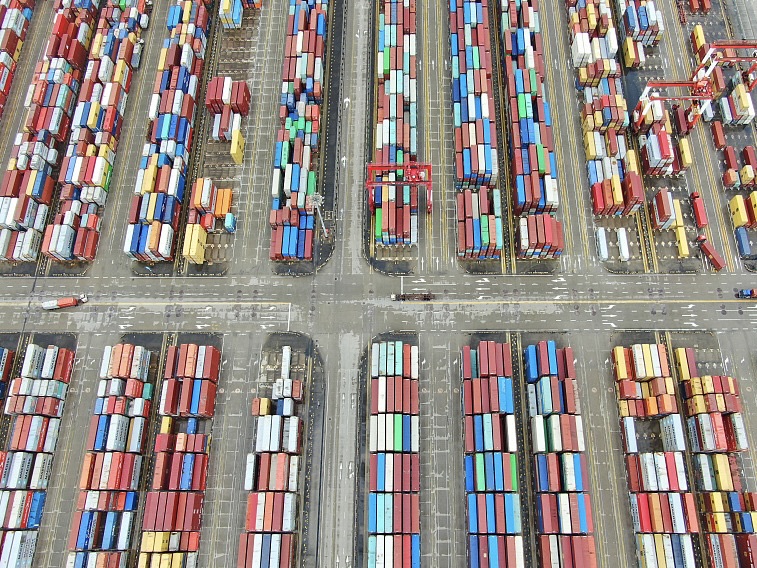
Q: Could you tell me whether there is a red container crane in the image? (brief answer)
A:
Yes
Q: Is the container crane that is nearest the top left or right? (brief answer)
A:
right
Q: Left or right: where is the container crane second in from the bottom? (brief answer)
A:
right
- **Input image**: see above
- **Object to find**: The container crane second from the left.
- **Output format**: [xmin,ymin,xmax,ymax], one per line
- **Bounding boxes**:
[631,77,710,131]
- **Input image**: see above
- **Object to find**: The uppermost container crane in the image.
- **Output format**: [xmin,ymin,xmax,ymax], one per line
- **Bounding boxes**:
[690,37,757,93]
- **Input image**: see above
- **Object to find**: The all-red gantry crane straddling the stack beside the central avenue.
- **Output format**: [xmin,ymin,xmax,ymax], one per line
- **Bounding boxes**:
[368,162,432,214]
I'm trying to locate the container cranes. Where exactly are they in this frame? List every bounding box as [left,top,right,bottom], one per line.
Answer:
[368,162,432,214]
[631,77,710,131]
[690,37,757,93]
